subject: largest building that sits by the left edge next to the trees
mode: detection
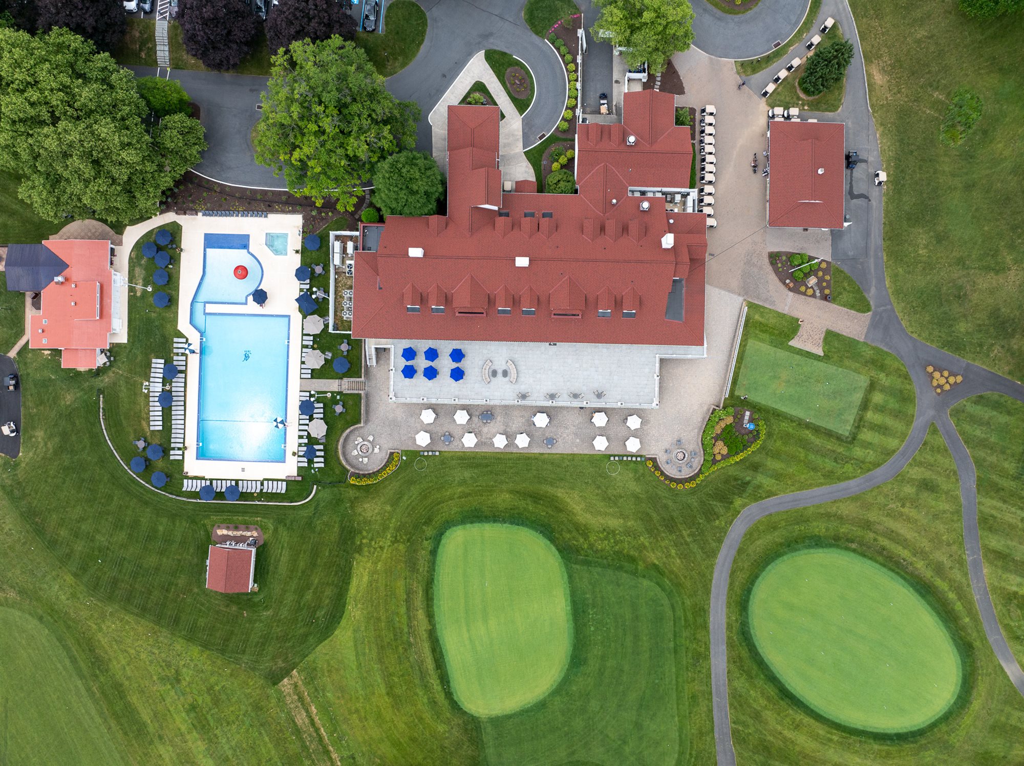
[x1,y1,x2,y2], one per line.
[5,239,125,369]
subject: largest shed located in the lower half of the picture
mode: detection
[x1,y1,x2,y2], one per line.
[203,544,258,593]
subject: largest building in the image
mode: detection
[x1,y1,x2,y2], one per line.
[351,89,708,347]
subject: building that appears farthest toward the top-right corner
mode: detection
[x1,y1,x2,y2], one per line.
[765,120,851,231]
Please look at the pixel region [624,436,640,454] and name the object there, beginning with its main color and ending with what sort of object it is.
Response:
white umbrella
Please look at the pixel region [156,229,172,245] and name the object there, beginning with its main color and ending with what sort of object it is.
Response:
blue umbrella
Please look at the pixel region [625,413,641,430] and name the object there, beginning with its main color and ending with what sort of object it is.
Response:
white umbrella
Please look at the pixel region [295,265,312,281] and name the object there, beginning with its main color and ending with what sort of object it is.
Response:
blue umbrella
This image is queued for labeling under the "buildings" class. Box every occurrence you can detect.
[765,120,851,231]
[203,544,258,593]
[351,89,708,347]
[5,239,125,369]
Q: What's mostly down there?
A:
grass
